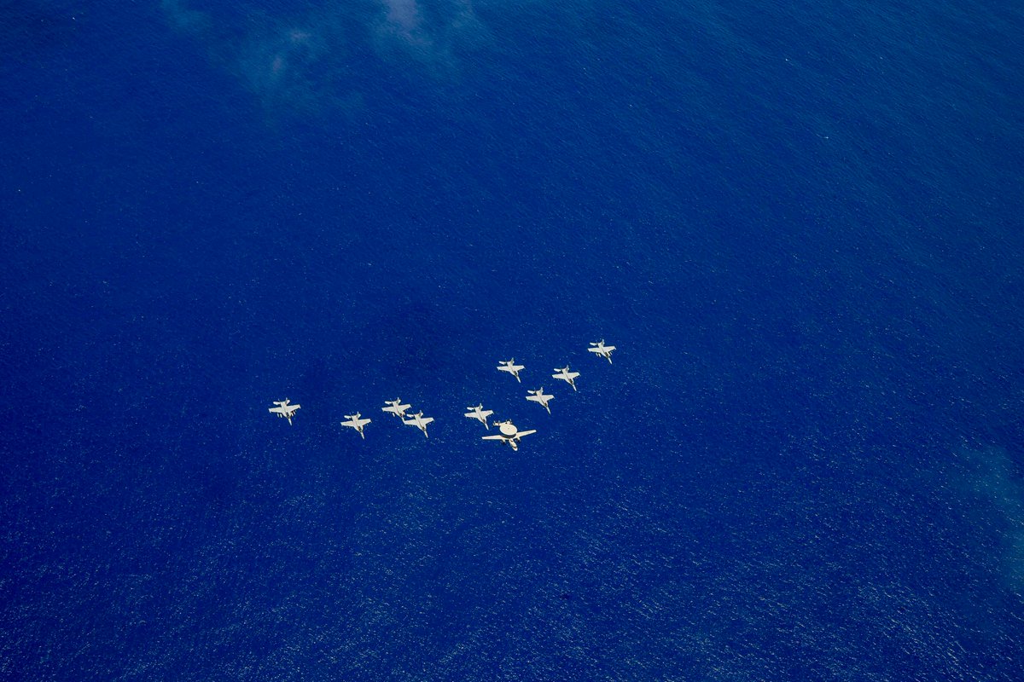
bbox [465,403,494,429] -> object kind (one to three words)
airplane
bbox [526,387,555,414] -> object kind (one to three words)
airplane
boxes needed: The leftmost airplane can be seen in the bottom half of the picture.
[269,397,300,425]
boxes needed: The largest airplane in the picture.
[482,419,536,452]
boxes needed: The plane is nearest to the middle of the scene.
[497,357,525,383]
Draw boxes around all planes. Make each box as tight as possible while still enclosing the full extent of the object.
[404,410,434,438]
[552,365,581,391]
[465,403,494,429]
[482,419,536,452]
[269,397,300,425]
[588,339,616,364]
[497,357,525,383]
[382,397,412,424]
[341,412,372,439]
[526,387,555,414]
